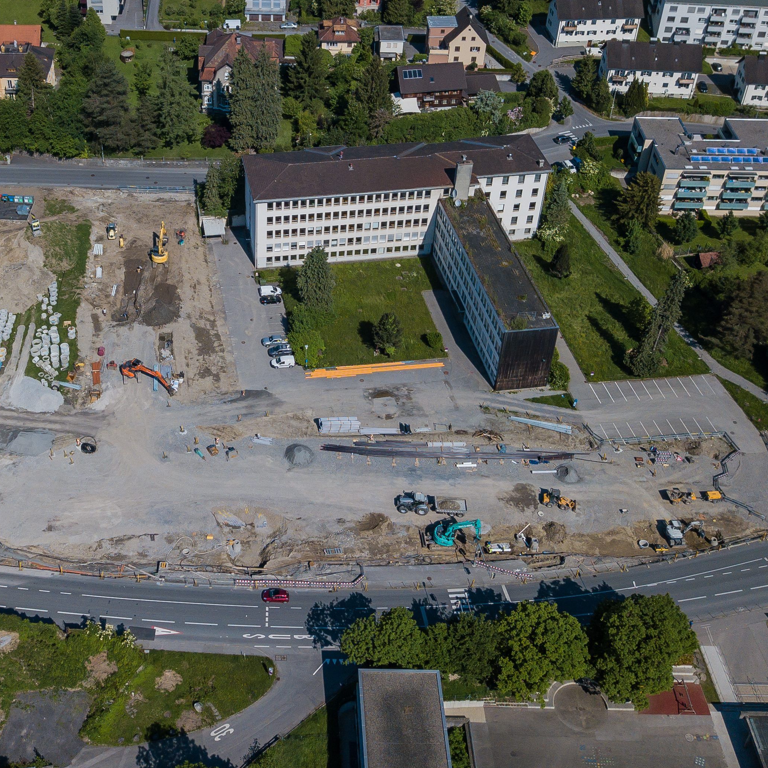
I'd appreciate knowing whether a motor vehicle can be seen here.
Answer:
Yes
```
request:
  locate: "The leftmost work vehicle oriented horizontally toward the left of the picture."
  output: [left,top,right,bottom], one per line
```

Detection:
[120,356,180,392]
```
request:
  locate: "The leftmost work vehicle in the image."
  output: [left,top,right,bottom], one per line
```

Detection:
[105,223,118,243]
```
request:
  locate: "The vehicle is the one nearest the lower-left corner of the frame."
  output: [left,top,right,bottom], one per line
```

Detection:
[261,588,290,604]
